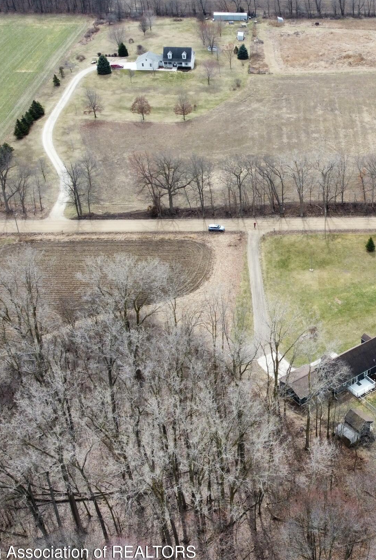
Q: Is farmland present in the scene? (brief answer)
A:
Yes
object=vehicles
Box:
[208,225,225,233]
[109,62,124,68]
